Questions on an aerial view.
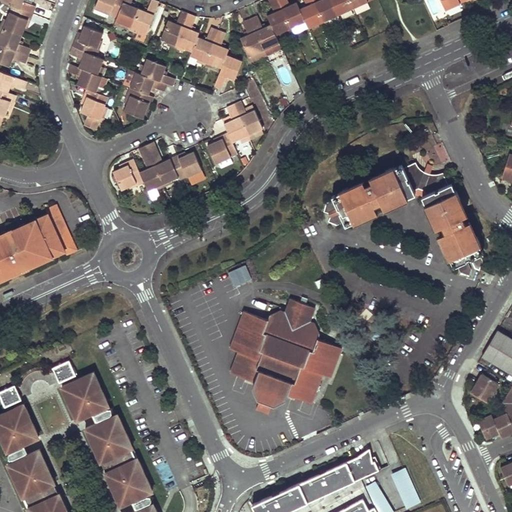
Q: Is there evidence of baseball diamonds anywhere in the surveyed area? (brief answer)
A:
No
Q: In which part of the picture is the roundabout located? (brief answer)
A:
left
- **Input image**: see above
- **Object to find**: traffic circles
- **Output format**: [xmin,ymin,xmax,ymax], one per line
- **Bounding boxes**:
[98,227,157,286]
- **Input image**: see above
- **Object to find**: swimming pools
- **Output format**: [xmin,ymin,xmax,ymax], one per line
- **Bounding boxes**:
[9,68,22,76]
[110,46,120,58]
[115,69,126,80]
[429,0,442,16]
[277,65,292,86]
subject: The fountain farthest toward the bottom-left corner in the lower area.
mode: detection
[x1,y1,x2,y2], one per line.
[30,374,51,396]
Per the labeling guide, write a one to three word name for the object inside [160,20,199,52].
house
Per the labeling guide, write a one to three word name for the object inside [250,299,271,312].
vehicle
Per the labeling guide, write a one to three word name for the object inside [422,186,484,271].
building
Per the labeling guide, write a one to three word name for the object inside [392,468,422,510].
shed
